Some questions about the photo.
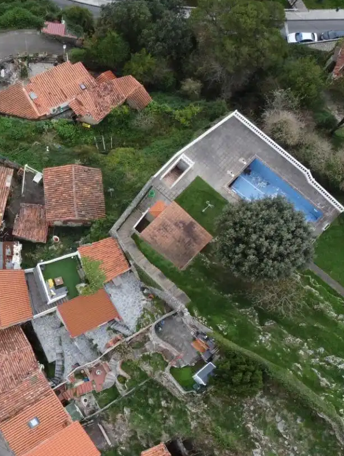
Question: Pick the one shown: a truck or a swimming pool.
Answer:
swimming pool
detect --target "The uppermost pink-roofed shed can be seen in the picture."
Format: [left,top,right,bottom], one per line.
[42,21,65,43]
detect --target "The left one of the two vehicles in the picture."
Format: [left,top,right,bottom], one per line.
[285,31,318,43]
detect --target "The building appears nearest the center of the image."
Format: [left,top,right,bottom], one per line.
[139,201,213,271]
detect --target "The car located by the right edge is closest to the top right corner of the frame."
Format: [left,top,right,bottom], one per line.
[319,27,344,42]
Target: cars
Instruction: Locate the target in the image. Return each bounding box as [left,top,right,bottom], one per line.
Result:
[319,27,344,42]
[285,31,318,43]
